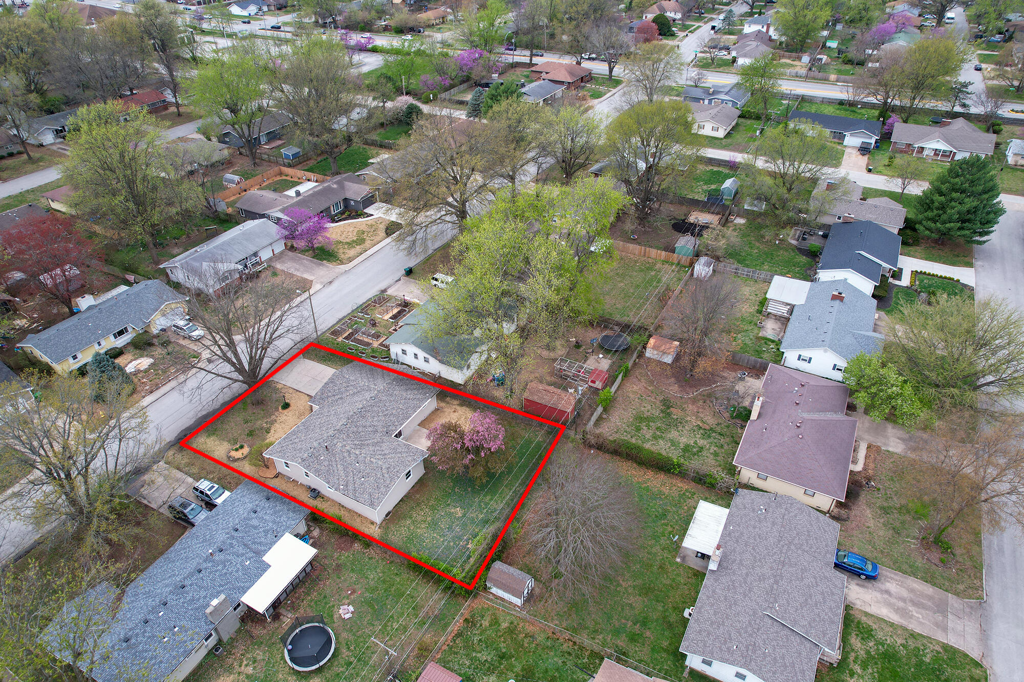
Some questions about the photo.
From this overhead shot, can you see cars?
Yes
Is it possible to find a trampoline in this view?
Yes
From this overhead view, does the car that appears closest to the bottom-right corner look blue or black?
blue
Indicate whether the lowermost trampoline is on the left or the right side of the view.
left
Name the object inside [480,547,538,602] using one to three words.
shed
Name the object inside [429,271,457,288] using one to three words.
vehicle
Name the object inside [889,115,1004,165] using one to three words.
house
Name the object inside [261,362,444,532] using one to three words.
house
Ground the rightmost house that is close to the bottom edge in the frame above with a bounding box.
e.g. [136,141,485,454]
[678,481,848,682]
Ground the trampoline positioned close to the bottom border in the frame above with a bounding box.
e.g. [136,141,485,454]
[277,609,333,673]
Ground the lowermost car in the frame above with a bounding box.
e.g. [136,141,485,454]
[841,549,887,586]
